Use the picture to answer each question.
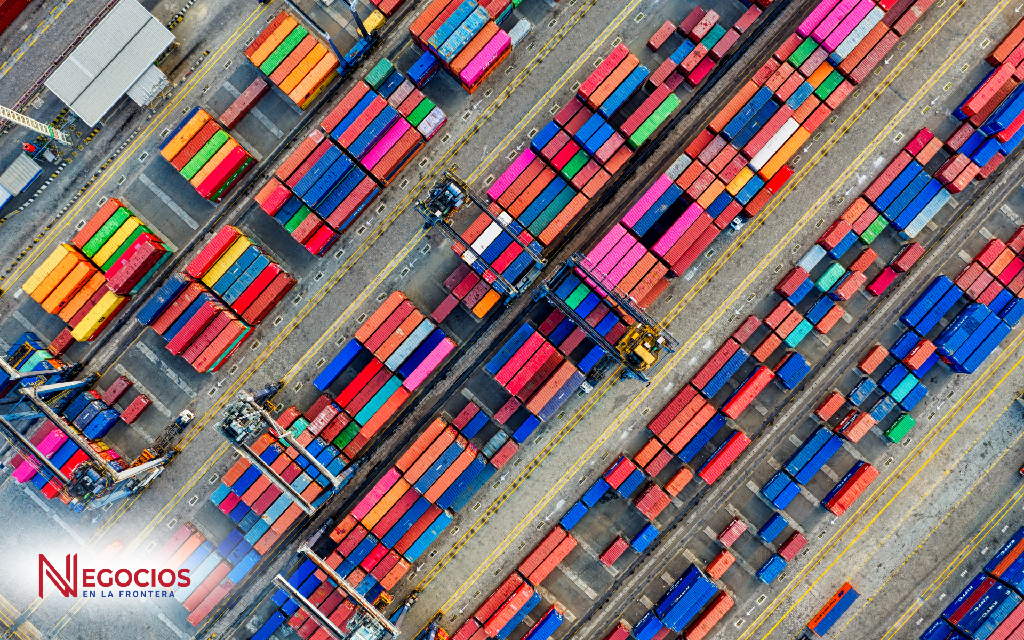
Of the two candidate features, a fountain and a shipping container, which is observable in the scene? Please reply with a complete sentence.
Of the two, only a shipping container appears.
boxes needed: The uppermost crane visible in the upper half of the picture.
[253,0,388,89]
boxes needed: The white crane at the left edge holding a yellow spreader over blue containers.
[0,338,93,404]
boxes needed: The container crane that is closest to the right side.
[528,248,678,384]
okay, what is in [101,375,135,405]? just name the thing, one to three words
shipping container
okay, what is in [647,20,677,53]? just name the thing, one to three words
shipping container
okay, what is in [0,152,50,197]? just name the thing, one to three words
shed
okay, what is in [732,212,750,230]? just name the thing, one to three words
vehicle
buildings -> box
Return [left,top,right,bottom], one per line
[0,152,50,197]
[43,149,63,164]
[43,0,184,131]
